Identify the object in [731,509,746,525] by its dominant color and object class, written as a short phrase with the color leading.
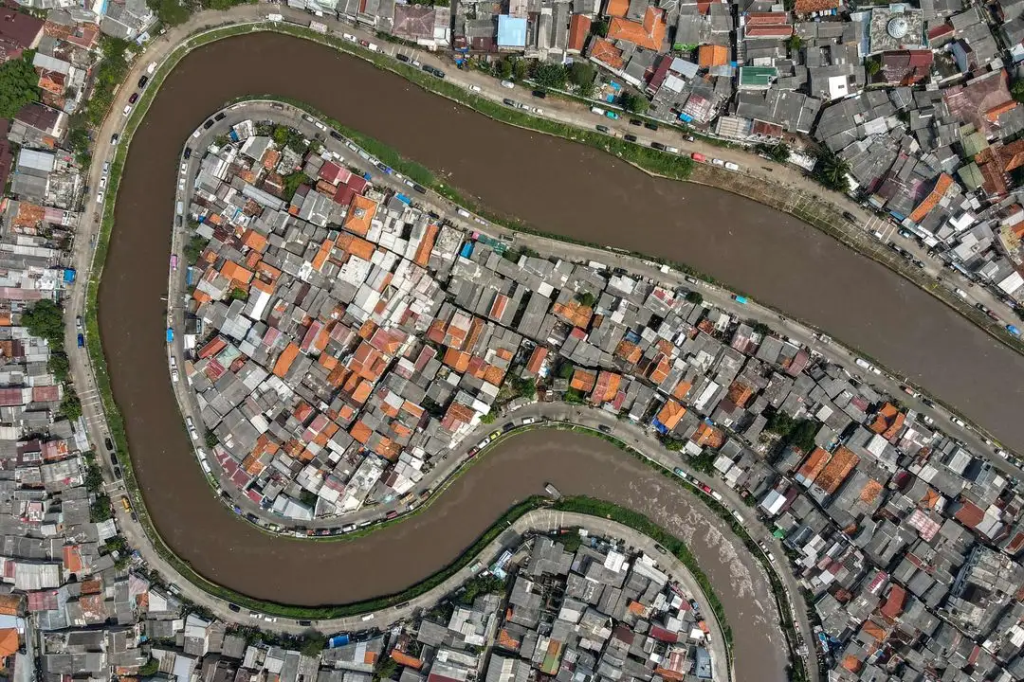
white vehicle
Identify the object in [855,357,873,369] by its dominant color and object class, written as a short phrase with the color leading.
white vehicle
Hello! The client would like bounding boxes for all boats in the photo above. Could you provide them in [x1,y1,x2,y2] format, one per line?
[544,483,560,501]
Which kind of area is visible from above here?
residential area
